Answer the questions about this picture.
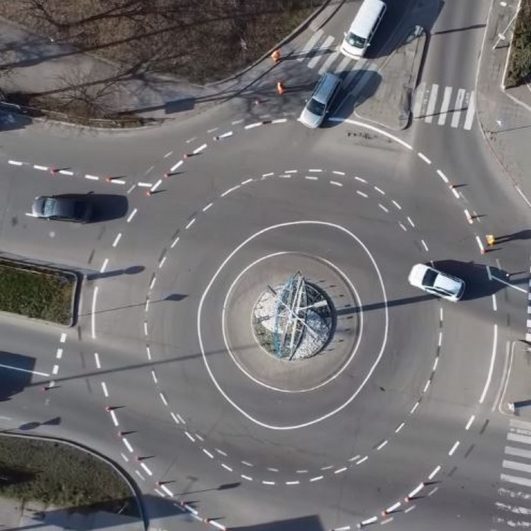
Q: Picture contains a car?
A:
Yes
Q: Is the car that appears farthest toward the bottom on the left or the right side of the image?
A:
right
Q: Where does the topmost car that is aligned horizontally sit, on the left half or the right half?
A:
left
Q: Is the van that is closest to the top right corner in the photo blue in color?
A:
No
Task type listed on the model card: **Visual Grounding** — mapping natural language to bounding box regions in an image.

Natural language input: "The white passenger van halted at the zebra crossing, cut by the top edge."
[341,0,387,61]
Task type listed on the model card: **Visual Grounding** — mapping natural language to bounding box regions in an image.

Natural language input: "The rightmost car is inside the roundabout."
[408,263,465,302]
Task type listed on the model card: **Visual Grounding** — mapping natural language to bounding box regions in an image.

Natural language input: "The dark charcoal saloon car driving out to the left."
[32,193,92,222]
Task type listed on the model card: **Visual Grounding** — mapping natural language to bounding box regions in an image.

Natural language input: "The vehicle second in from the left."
[301,74,341,130]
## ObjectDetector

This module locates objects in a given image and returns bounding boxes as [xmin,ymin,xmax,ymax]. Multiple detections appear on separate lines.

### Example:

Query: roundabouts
[78,111,510,531]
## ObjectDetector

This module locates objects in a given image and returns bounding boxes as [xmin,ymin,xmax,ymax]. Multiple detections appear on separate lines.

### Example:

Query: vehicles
[301,74,341,130]
[408,263,465,302]
[341,0,387,61]
[32,193,92,222]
